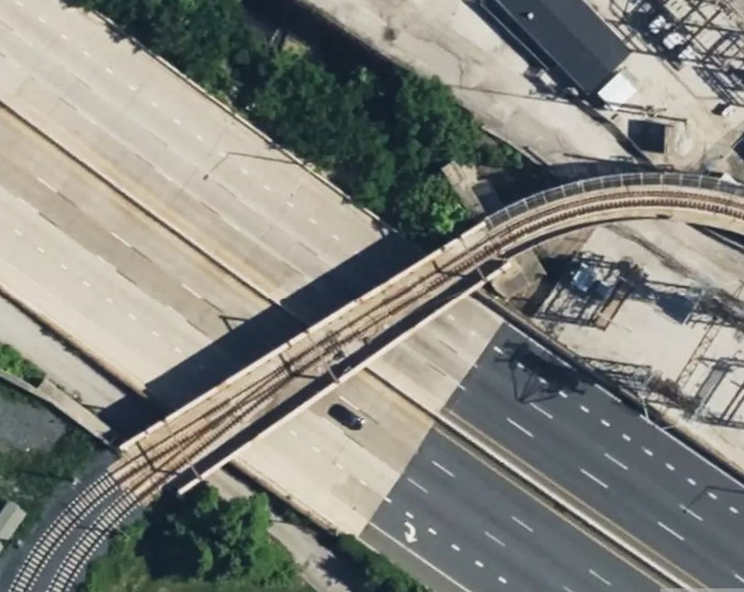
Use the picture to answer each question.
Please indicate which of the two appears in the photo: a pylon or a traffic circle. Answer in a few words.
pylon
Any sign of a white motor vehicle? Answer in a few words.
No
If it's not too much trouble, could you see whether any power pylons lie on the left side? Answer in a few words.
No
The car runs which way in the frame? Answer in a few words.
diagonally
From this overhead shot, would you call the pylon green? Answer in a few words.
No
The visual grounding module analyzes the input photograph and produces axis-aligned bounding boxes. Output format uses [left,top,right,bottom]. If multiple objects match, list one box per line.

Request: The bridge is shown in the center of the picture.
[104,171,744,507]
